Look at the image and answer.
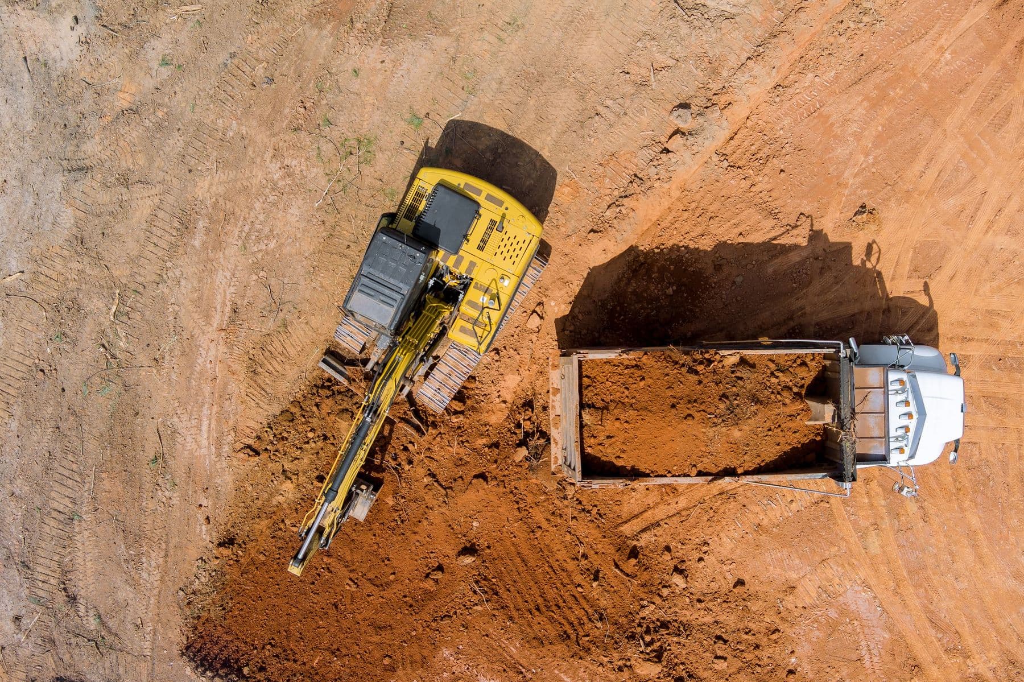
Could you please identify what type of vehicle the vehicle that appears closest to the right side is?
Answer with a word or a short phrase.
truck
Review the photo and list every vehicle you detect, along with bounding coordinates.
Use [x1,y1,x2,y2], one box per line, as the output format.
[285,168,547,578]
[548,329,967,506]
